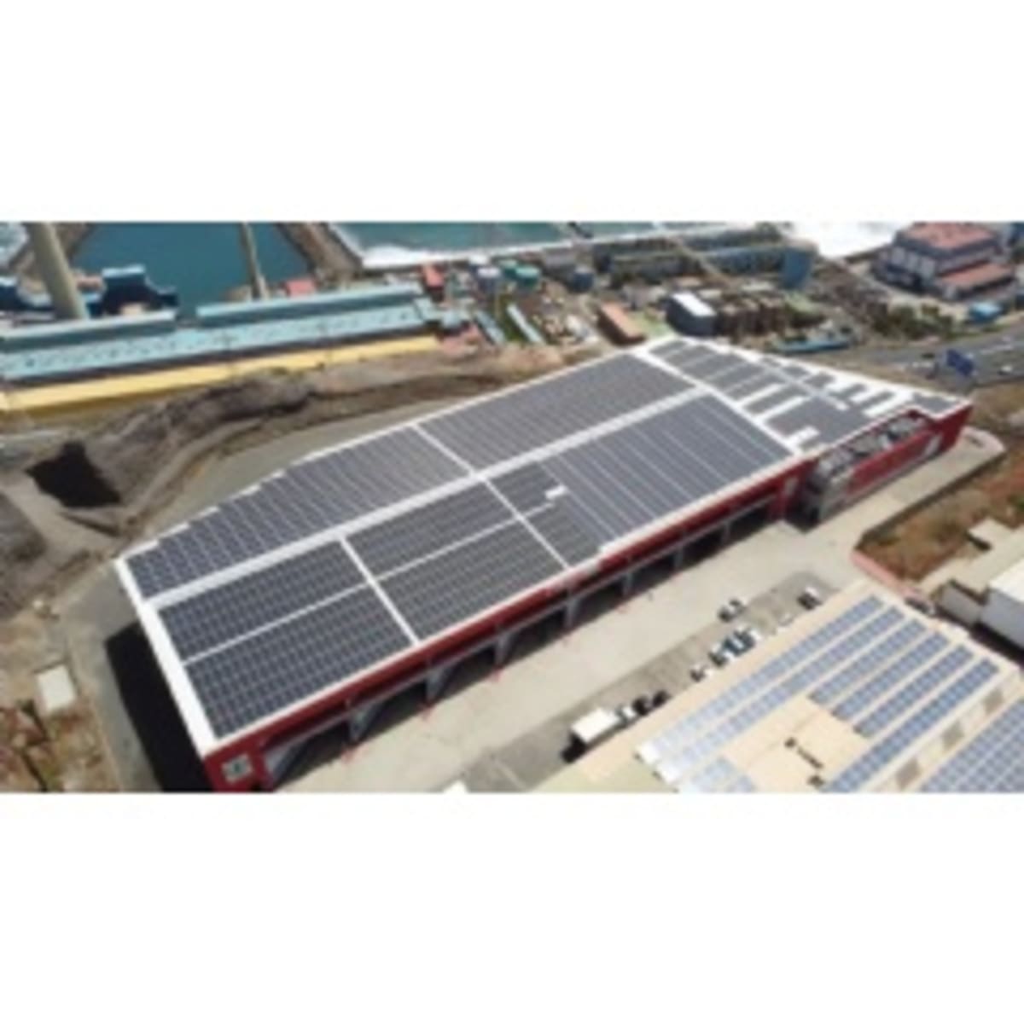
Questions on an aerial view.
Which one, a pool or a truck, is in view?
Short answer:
truck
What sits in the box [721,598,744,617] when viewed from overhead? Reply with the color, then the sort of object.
gray car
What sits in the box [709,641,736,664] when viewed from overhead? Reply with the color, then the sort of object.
white car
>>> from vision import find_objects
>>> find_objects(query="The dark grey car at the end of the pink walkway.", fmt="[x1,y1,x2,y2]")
[912,596,940,615]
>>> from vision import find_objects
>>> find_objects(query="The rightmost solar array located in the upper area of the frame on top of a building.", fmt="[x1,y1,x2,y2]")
[915,392,957,410]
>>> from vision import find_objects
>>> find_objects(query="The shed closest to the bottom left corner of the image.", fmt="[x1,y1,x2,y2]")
[37,666,80,720]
